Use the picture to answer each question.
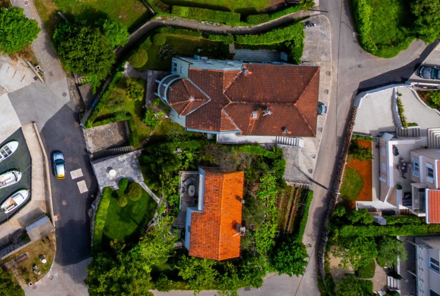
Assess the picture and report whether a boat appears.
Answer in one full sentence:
Yes, a boat appears in the view.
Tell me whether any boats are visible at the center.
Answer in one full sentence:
No, looking at the center, there is no boat.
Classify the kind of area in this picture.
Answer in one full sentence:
This image shows a residential area.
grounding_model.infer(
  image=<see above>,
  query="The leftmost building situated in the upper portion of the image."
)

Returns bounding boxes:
[152,50,320,144]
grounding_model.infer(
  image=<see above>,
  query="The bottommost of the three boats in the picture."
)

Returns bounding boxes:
[0,191,30,221]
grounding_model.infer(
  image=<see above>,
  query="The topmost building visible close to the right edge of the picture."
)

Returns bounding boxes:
[377,135,440,224]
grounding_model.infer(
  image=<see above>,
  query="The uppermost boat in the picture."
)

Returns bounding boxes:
[0,142,18,163]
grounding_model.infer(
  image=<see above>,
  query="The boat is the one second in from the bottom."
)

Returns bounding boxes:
[0,165,30,190]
